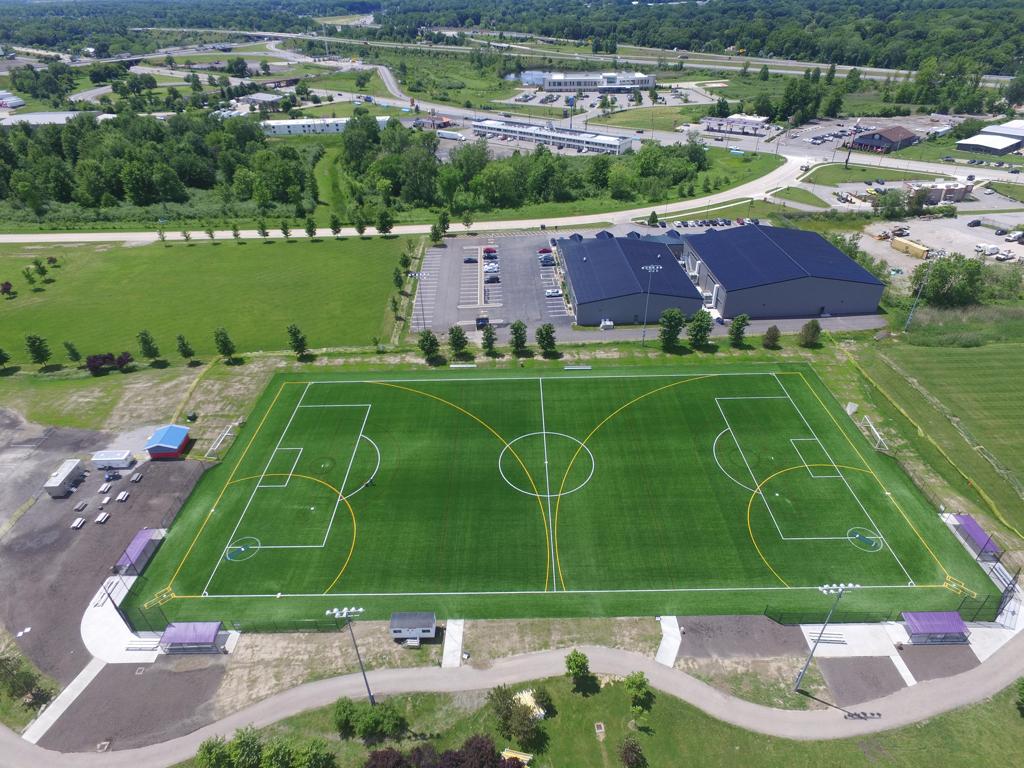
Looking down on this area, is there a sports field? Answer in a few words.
Yes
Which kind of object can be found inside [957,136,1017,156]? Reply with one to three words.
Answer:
shed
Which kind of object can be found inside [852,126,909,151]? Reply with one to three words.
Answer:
building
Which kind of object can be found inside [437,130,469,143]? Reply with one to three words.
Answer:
vehicle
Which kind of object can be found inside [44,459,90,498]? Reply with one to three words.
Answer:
trailer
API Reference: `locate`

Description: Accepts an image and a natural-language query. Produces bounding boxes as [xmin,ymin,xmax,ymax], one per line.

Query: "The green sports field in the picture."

[167,372,948,596]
